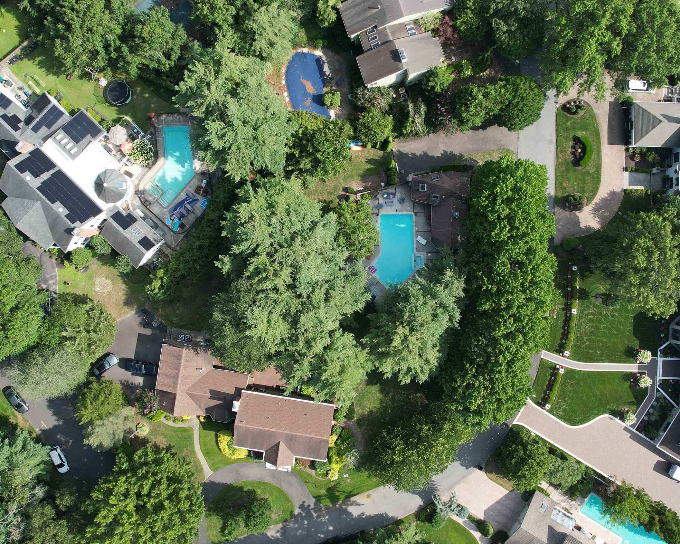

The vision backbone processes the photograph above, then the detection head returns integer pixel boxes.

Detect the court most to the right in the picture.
[172,0,206,36]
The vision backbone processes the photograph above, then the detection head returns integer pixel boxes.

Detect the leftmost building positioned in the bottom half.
[154,343,335,471]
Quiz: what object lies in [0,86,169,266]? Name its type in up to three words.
house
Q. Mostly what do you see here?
trees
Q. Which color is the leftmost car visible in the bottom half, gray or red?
gray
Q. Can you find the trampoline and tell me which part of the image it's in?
top left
